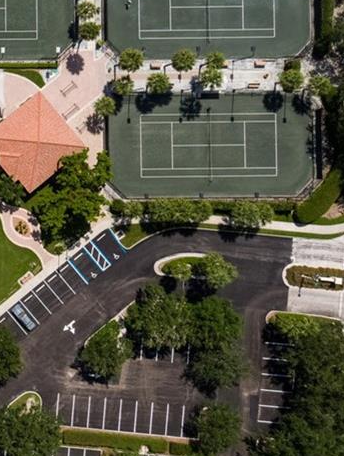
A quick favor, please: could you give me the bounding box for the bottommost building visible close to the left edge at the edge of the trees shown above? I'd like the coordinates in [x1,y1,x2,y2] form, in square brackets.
[0,91,88,193]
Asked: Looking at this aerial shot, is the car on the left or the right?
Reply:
left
